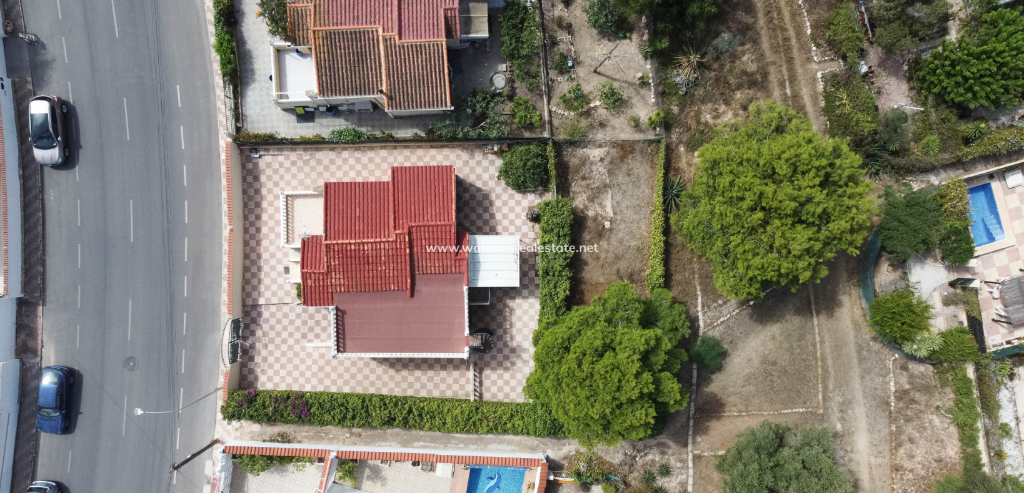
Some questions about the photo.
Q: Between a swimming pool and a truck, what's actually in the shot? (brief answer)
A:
swimming pool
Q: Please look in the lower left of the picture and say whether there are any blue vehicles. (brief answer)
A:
Yes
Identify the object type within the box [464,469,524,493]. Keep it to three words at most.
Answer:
swimming pool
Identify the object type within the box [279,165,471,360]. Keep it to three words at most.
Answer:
house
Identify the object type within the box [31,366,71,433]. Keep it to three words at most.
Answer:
car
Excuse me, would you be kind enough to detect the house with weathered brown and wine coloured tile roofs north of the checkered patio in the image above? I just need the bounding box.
[270,0,462,112]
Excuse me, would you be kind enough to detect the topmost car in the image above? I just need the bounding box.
[28,95,69,168]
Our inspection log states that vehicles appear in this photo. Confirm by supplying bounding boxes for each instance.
[28,95,69,168]
[31,366,71,433]
[26,477,62,493]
